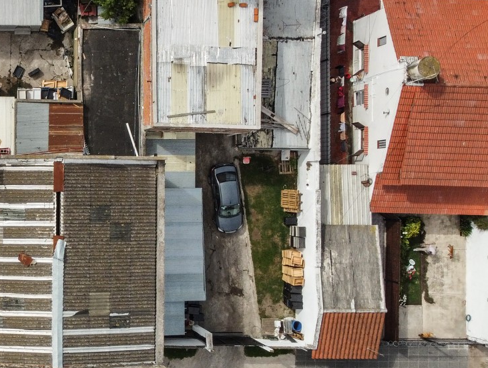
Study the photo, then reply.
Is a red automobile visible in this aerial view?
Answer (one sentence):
No, the picture doesn't show any red automobile.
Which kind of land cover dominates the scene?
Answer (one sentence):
The scene is dominated by buildings.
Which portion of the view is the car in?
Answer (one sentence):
The car is in the center part of the image.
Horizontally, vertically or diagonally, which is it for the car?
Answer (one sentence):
In this picture, the car is oriented vertically.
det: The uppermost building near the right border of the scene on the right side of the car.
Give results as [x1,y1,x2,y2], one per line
[353,0,488,214]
